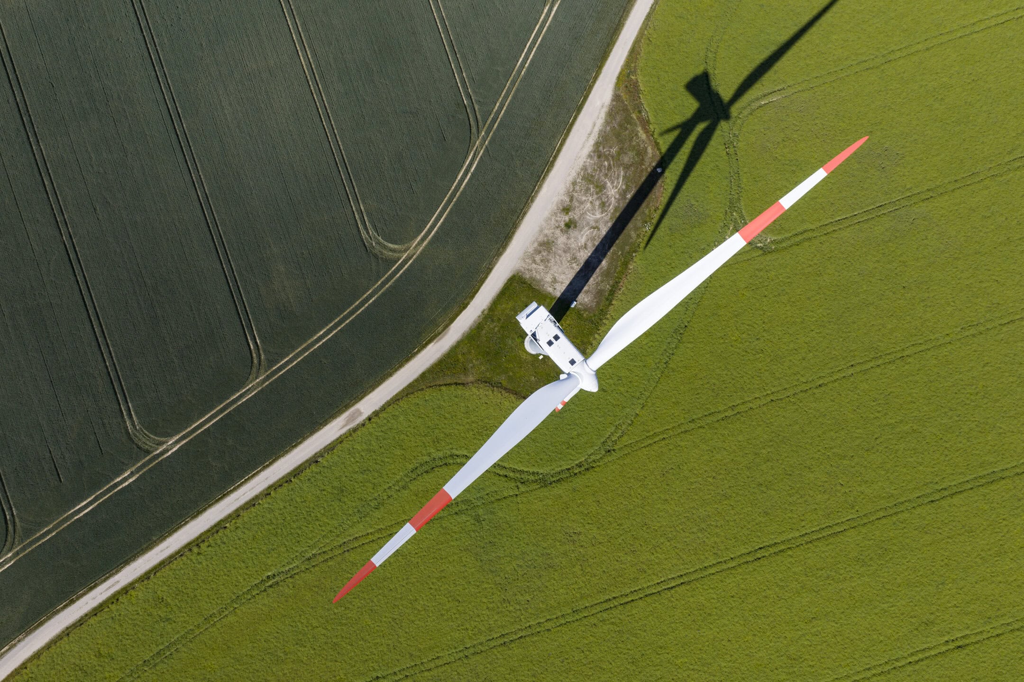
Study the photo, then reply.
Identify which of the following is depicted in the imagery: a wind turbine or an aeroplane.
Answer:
wind turbine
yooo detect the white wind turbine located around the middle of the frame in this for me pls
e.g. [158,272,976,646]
[333,137,868,603]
